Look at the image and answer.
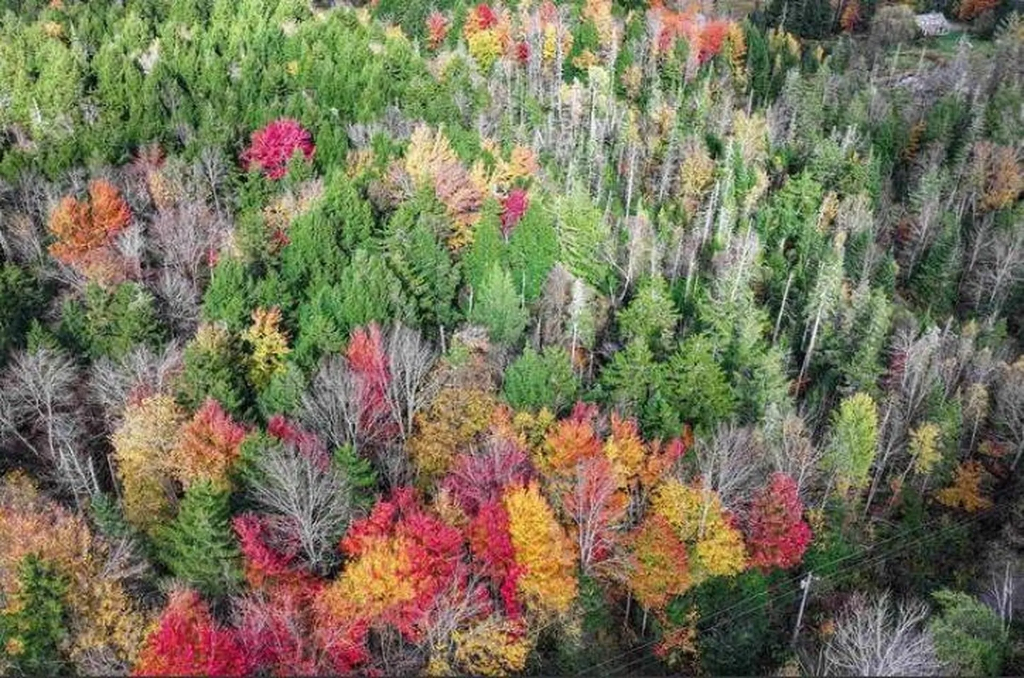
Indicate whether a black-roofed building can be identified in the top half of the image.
No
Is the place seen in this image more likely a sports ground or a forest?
forest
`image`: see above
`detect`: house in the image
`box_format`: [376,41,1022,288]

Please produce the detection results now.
[913,12,953,36]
